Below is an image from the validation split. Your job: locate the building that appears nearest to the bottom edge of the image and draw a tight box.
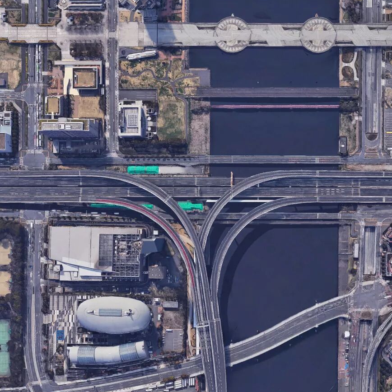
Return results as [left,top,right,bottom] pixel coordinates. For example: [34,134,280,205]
[67,343,146,370]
